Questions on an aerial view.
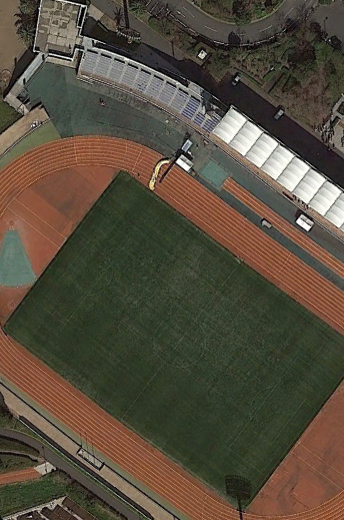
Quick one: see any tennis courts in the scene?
No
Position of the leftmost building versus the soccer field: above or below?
above it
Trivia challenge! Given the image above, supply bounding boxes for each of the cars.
[231,74,242,86]
[275,109,285,120]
